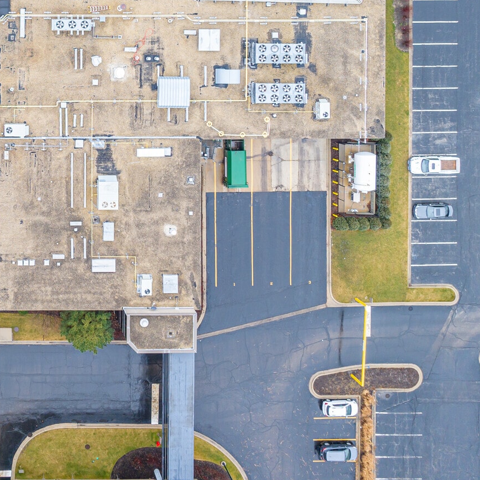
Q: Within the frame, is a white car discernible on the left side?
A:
No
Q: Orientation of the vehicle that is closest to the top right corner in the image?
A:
from side to side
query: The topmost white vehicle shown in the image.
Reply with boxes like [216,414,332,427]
[408,156,461,175]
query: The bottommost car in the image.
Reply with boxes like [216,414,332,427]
[318,439,355,460]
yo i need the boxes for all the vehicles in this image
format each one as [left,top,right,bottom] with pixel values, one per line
[321,397,356,418]
[318,439,355,460]
[410,202,452,221]
[408,156,461,175]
